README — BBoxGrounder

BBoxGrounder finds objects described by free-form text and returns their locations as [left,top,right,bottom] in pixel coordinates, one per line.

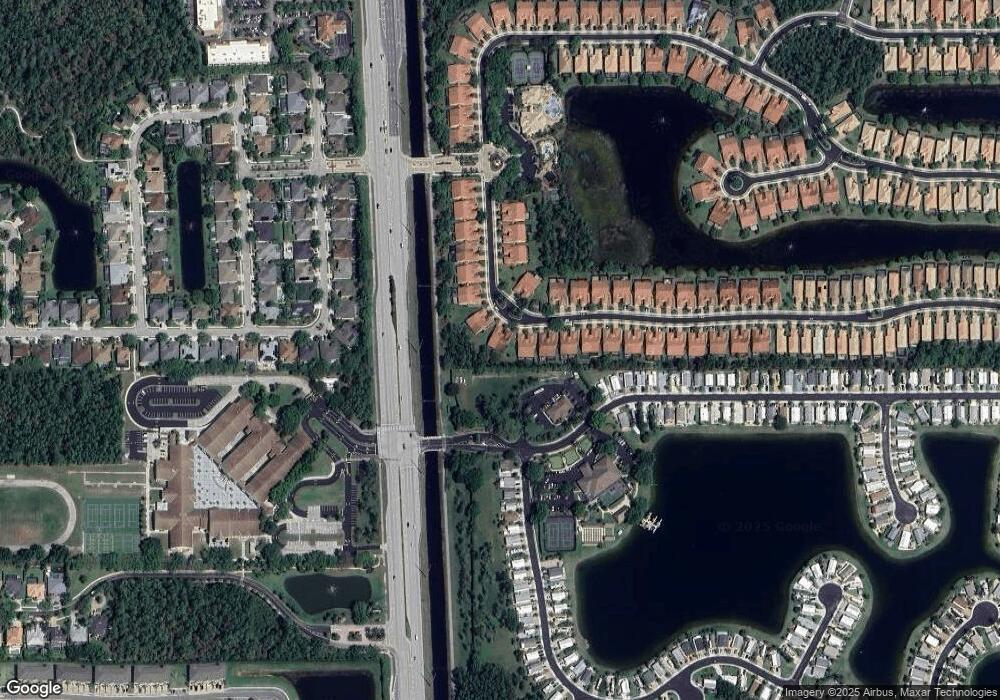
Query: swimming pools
[544,94,562,117]
[544,144,553,160]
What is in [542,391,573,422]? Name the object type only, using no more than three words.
building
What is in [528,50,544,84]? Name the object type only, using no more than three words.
tennis court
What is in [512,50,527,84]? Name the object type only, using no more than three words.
tennis court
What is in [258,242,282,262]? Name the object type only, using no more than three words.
house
